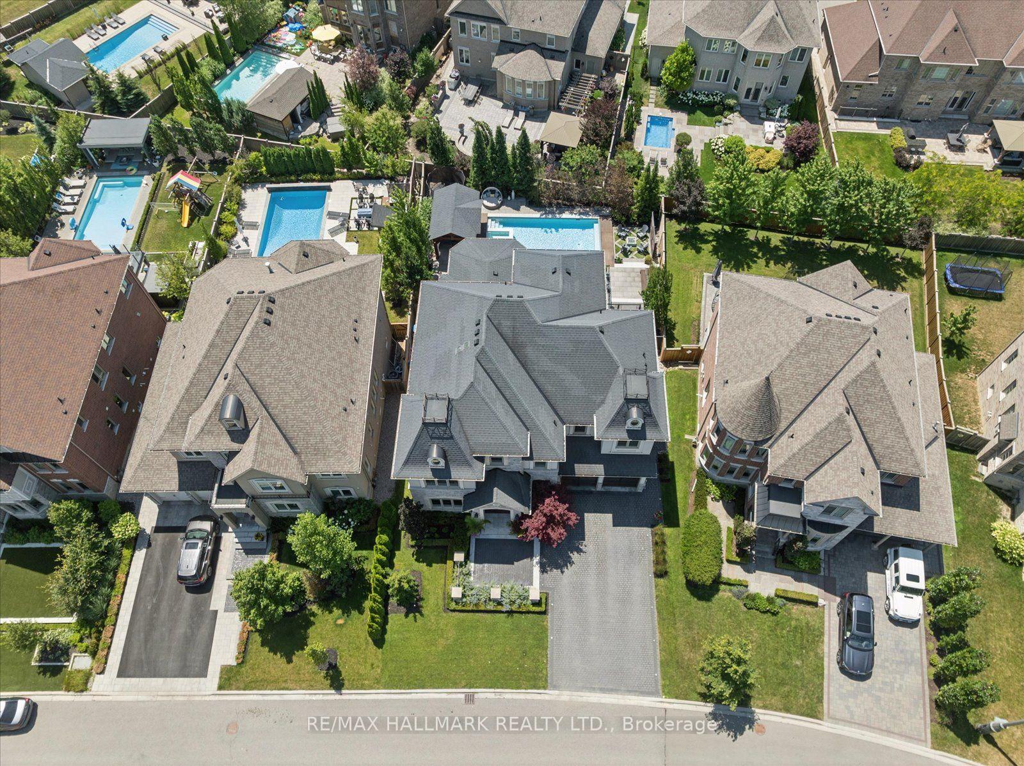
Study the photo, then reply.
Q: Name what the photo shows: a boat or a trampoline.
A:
trampoline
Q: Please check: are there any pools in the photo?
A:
Yes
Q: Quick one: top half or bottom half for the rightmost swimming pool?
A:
top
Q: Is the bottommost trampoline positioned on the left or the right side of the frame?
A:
right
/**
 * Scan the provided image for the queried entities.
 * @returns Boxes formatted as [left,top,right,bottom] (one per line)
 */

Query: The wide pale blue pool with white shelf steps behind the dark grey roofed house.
[484,214,602,250]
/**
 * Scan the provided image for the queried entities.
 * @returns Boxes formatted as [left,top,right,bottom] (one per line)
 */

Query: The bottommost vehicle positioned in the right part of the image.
[838,594,882,682]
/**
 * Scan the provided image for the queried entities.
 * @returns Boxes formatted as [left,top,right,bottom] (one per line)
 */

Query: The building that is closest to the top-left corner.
[6,38,98,112]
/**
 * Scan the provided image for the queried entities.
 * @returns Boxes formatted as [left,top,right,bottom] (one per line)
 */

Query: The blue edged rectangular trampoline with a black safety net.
[941,250,1015,299]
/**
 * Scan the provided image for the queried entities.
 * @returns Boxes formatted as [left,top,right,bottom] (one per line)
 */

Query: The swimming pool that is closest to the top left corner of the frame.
[80,11,183,78]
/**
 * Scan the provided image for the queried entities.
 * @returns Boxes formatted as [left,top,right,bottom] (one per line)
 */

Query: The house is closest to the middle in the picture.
[389,237,671,526]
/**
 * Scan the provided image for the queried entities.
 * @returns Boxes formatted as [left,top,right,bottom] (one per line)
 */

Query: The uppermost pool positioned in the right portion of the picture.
[641,113,676,150]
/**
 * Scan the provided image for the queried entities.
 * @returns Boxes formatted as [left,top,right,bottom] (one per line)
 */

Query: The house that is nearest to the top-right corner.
[817,0,1024,124]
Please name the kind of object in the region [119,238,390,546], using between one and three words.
house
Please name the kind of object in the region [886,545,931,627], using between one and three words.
car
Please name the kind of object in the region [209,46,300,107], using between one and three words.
swimming pool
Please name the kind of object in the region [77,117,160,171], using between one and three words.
building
